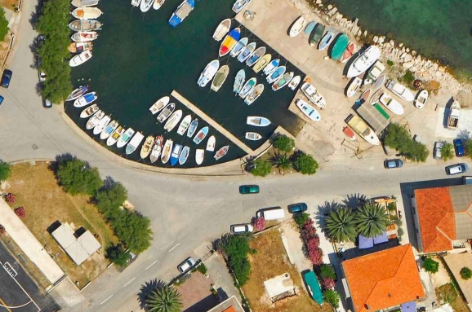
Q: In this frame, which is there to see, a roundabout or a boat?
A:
boat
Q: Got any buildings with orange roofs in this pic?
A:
Yes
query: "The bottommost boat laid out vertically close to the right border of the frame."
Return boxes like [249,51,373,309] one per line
[448,100,461,129]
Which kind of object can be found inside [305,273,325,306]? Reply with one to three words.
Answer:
boat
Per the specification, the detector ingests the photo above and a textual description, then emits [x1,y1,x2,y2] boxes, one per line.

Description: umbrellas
[373,232,387,245]
[400,302,416,312]
[358,235,372,247]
